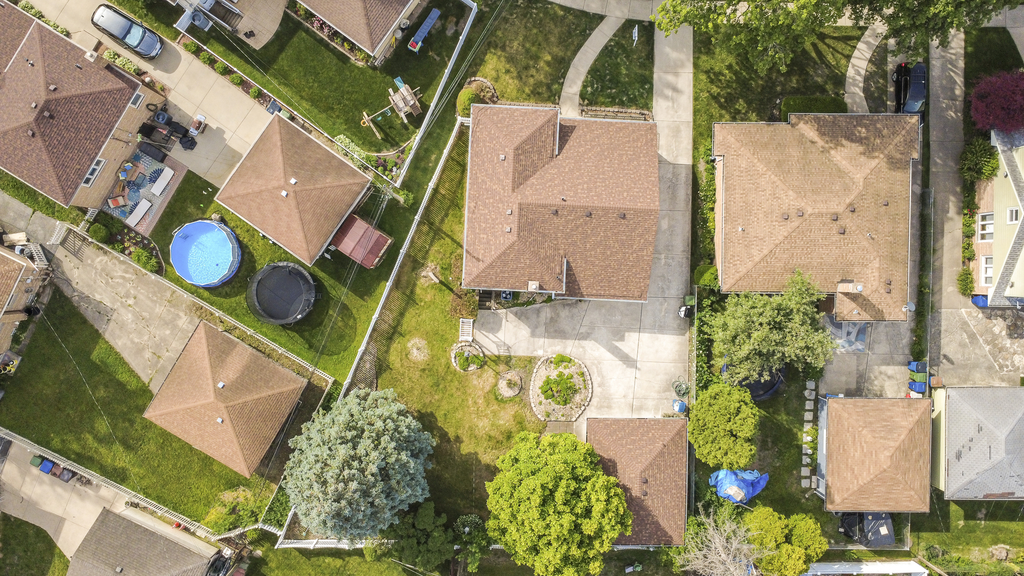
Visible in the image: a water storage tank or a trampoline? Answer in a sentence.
The one in the frame is a trampoline.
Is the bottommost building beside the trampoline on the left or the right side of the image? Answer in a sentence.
It is on the left.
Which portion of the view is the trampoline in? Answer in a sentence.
The trampoline is in the left part of the image.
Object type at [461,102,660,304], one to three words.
house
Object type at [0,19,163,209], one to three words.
house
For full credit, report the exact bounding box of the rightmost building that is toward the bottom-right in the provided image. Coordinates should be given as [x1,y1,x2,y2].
[927,386,1024,502]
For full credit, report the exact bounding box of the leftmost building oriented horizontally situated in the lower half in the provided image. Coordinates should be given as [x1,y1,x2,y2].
[53,499,223,576]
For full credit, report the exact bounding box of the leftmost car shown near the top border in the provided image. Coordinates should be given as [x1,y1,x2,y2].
[87,3,169,67]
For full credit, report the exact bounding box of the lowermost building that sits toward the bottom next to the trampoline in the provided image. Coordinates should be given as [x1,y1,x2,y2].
[141,318,312,480]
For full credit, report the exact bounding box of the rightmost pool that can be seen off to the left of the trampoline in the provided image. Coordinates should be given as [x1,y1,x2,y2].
[171,219,243,287]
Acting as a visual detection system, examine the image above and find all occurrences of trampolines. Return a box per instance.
[242,259,317,326]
